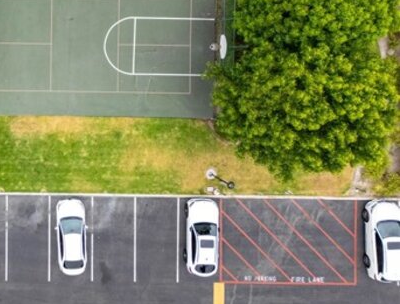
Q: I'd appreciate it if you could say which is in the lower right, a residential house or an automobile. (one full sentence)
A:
Visible in the lower right is an automobile.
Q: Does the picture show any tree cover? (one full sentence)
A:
Yes, tree cover can be seen from above here.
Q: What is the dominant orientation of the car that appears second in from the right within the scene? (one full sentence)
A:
In this picture, the car that appears second in from the right lies from top to bottom.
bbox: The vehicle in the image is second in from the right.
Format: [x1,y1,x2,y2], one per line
[183,198,224,278]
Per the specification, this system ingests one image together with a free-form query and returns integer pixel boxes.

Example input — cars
[53,197,90,279]
[361,196,400,283]
[183,198,224,278]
